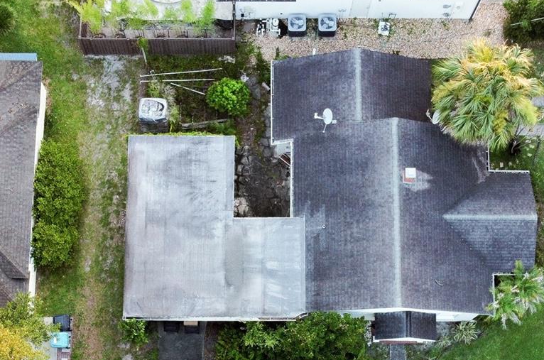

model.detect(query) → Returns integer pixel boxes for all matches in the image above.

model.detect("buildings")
[0,52,48,318]
[123,48,537,349]
[218,0,485,22]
